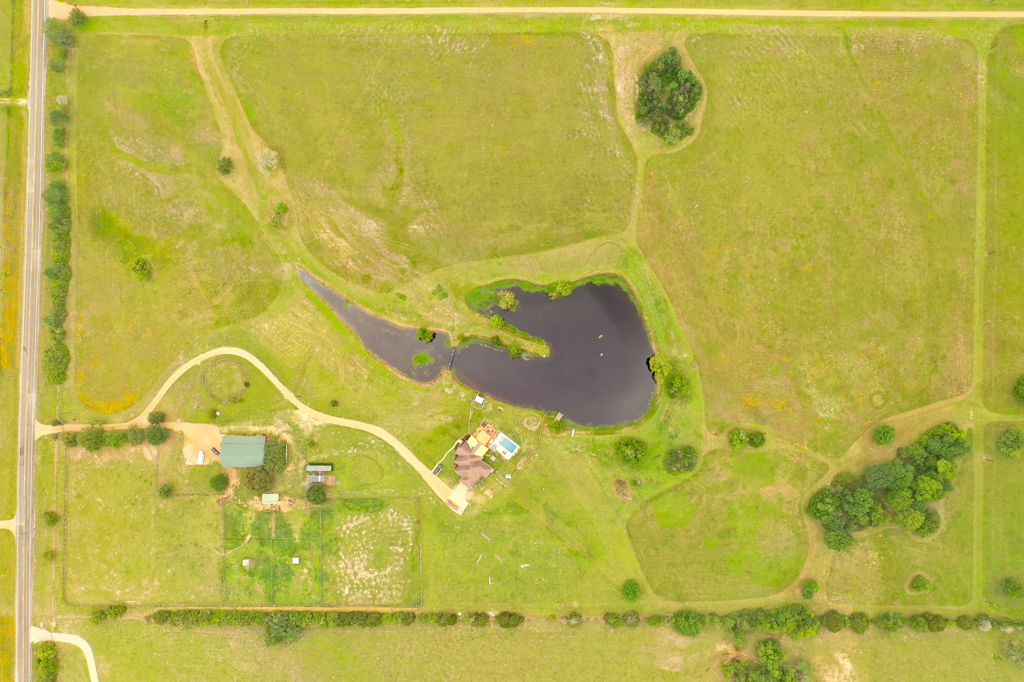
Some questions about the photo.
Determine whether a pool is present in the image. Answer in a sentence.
Yes, a pool is visible in the scene.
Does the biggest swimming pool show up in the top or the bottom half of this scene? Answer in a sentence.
The bottom half of the photo is where the biggest swimming pool is.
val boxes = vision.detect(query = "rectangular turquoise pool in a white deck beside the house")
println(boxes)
[489,432,520,460]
